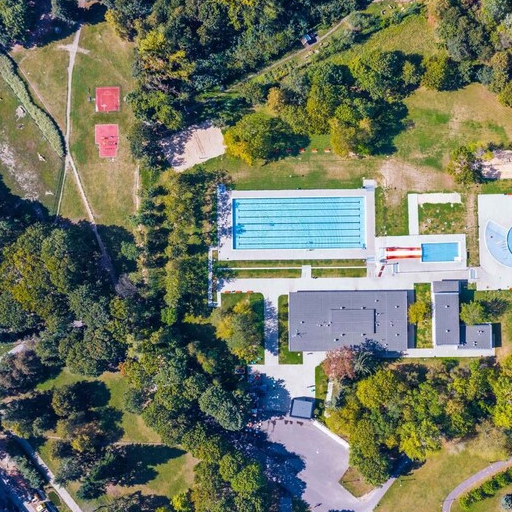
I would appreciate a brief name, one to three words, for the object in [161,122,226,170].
sports court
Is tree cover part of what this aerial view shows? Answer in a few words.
Yes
